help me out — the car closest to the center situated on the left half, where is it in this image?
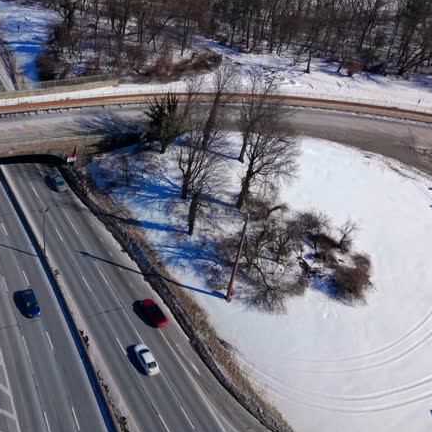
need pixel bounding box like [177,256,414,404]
[140,300,168,330]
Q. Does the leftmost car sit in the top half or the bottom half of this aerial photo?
bottom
